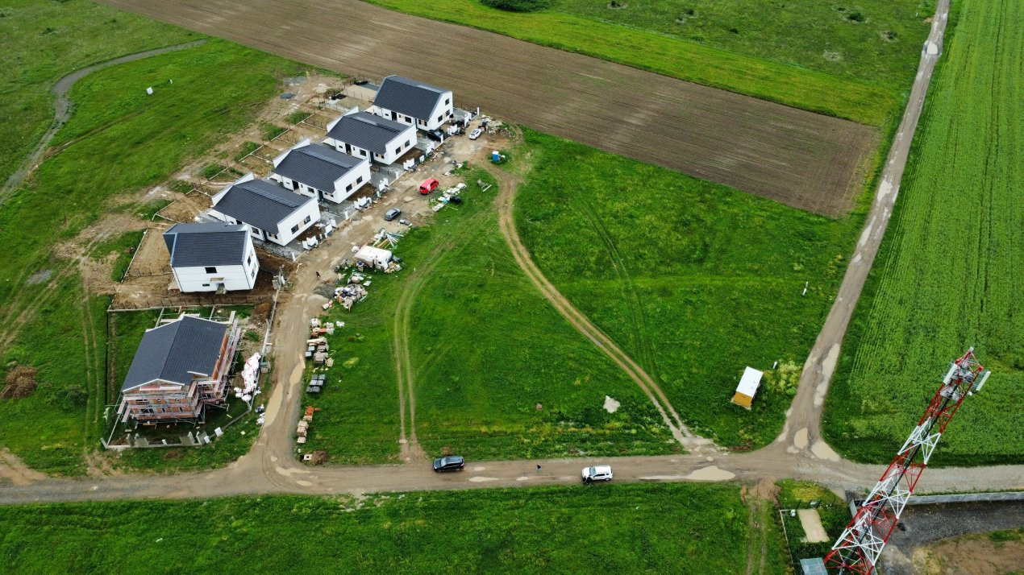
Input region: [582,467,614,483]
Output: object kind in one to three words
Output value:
car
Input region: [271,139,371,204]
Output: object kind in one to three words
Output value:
house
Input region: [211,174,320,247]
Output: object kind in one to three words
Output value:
house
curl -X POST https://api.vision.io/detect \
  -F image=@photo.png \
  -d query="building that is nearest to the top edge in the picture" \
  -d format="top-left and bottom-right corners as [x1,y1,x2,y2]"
[368,76,453,130]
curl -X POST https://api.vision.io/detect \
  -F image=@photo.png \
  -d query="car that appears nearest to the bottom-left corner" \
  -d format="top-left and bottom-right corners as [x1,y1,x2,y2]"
[432,457,466,473]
